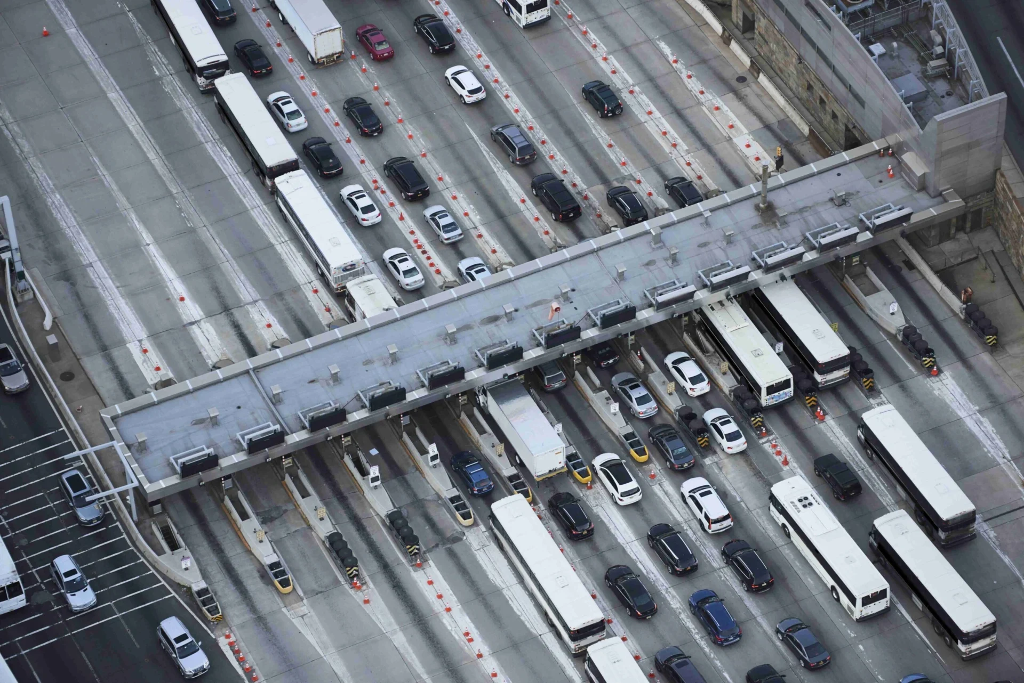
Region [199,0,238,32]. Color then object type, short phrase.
black car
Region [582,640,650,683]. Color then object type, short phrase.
white bus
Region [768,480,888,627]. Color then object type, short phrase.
white bus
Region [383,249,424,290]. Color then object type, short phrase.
white car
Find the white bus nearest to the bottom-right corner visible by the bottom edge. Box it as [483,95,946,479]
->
[868,511,994,665]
